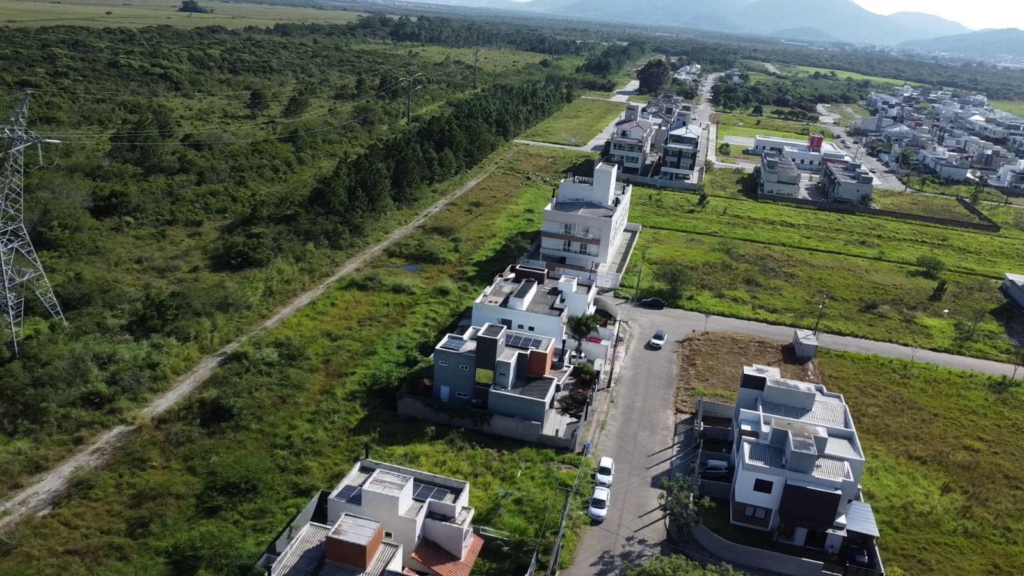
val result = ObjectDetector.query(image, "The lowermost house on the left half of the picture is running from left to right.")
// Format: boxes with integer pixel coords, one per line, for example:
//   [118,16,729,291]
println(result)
[268,514,405,576]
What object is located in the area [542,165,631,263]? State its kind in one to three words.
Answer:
building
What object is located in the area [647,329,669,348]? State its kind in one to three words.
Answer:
car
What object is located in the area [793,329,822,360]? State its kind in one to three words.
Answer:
shed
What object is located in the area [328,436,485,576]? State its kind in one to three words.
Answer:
house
